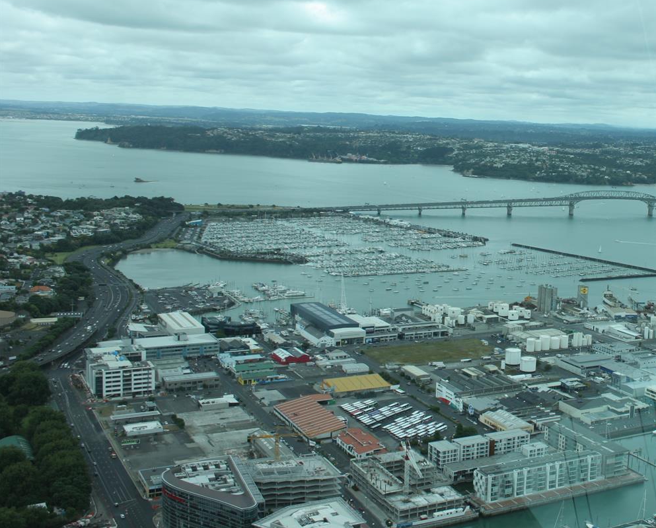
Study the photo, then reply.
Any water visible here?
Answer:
Yes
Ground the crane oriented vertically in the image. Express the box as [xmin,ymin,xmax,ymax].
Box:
[402,441,424,493]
